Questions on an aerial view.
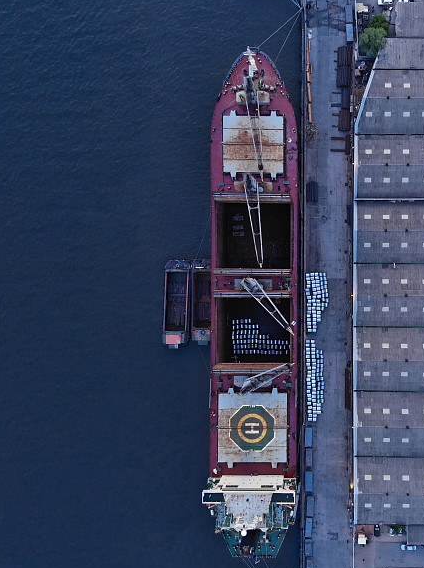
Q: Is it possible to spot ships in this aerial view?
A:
Yes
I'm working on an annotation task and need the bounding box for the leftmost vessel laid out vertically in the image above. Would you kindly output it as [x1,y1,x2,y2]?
[162,259,190,347]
